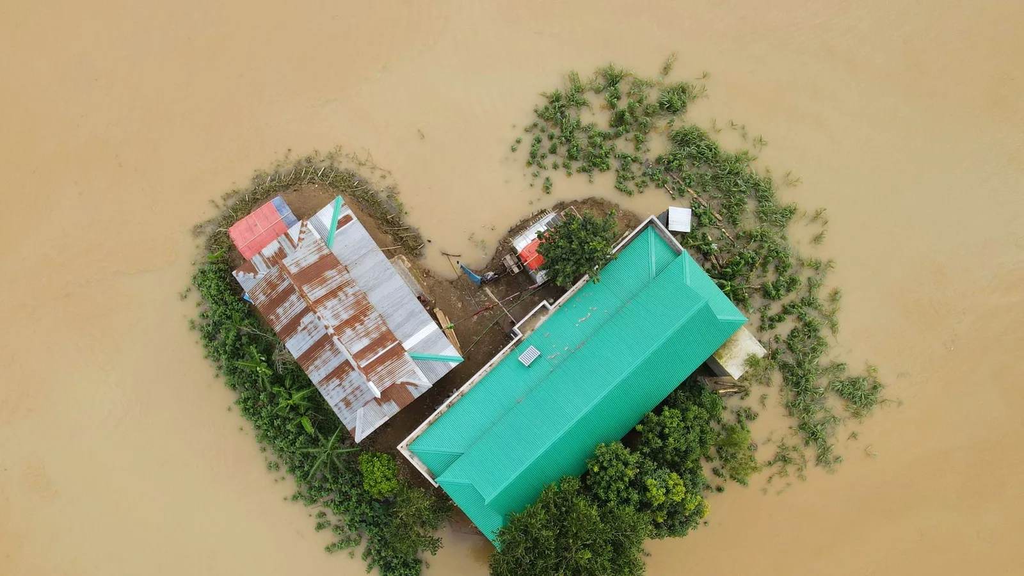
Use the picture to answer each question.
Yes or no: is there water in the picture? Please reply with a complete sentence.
Yes, the picture does contain water.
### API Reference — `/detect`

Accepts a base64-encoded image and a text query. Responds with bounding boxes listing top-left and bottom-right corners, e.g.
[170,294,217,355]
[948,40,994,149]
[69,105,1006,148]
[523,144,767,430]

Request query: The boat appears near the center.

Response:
[458,260,481,285]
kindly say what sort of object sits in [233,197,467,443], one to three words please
house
